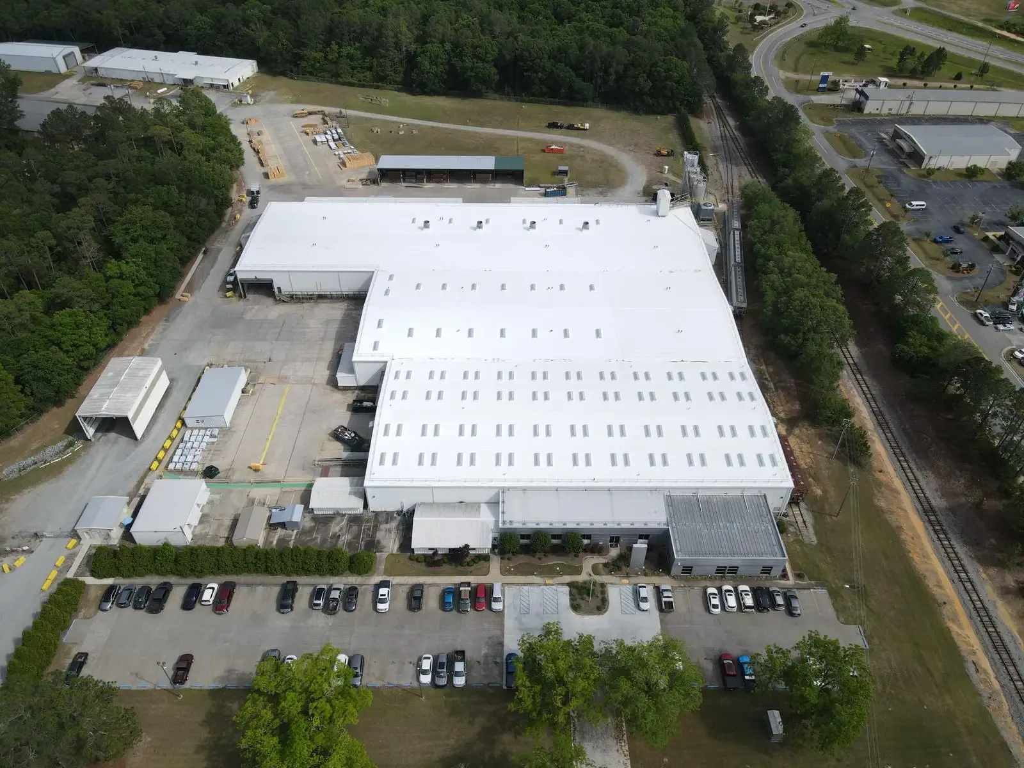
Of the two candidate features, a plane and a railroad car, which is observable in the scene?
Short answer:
railroad car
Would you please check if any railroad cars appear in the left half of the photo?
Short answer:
No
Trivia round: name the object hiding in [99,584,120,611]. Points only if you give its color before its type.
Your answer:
gray car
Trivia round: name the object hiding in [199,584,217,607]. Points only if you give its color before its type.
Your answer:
white car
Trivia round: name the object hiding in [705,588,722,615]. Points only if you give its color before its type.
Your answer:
white car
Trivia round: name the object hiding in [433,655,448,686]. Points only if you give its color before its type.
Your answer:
gray car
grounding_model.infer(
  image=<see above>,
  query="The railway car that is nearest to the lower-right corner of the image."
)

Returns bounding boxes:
[778,430,808,500]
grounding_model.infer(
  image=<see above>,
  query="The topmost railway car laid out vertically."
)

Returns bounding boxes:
[729,202,743,241]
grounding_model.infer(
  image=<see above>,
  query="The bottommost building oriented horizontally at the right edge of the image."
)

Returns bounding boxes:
[892,125,1022,168]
